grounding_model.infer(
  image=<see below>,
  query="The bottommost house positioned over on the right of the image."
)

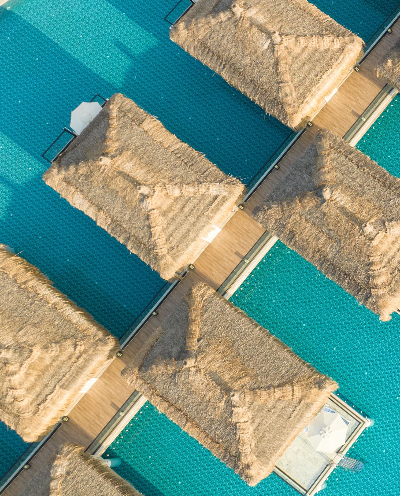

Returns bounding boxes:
[120,278,374,496]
